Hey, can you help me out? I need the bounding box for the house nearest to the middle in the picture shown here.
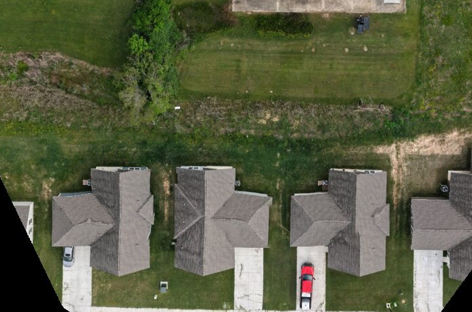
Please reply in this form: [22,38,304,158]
[174,165,271,274]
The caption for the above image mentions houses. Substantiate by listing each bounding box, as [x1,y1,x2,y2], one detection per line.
[412,147,472,285]
[174,165,271,274]
[290,167,389,274]
[14,198,32,241]
[52,165,152,274]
